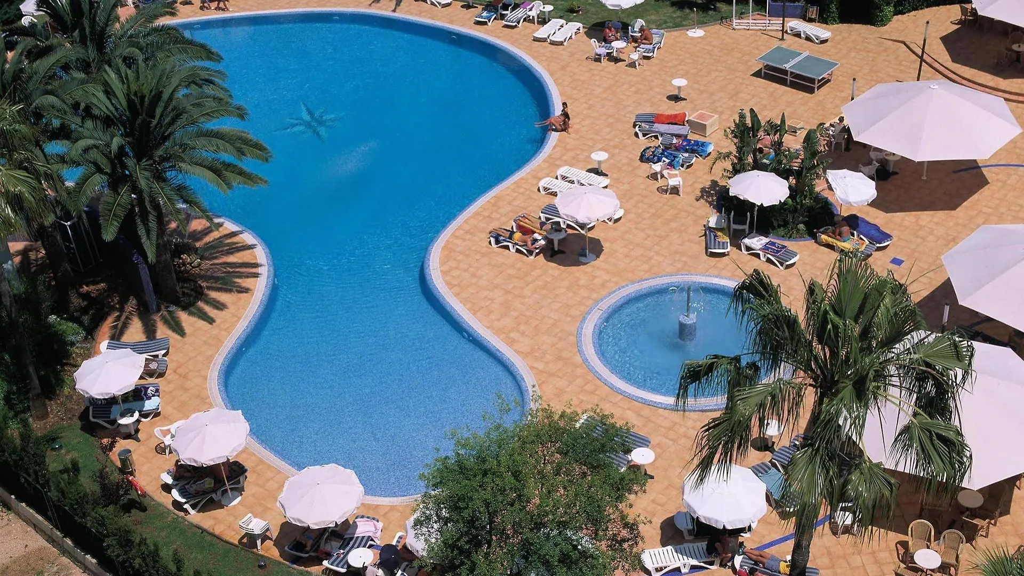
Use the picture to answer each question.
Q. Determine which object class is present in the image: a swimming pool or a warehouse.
swimming pool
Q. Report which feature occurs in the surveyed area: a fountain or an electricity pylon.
fountain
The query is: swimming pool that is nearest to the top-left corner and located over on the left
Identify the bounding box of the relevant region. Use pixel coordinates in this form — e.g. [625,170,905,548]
[45,10,556,497]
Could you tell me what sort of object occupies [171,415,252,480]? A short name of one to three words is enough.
umbrella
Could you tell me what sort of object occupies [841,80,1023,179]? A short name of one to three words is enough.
umbrella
